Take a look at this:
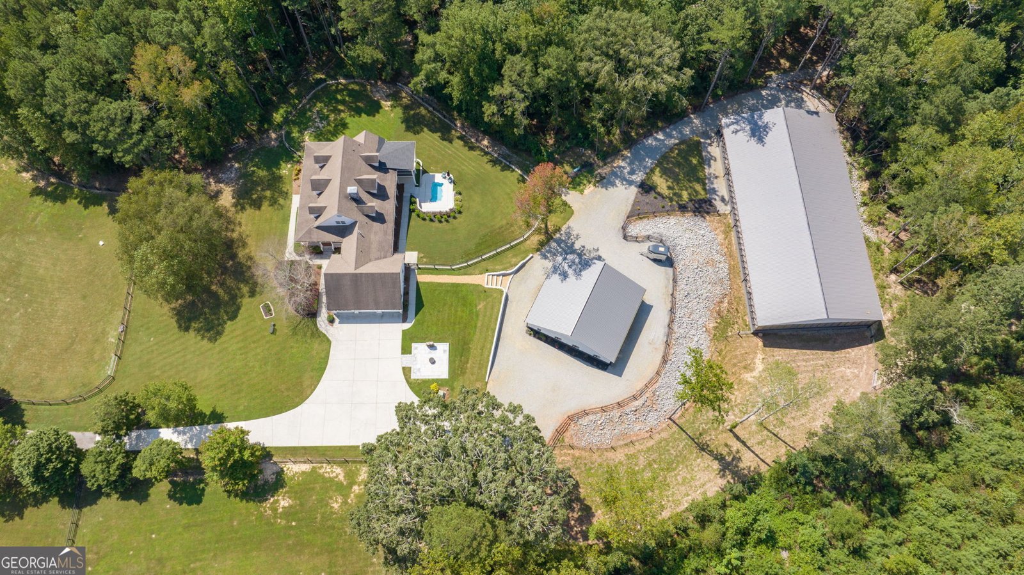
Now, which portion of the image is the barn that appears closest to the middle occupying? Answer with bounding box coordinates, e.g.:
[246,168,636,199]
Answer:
[526,252,645,362]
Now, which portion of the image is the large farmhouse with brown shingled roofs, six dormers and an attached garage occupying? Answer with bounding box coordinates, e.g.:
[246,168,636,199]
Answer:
[294,130,417,314]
